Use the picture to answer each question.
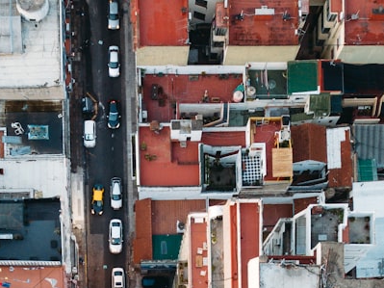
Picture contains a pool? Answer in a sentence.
No, I can't see a single pool in this photo.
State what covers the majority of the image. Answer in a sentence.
The scene is dominated by buildings.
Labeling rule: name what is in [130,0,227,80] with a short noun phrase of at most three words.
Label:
building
